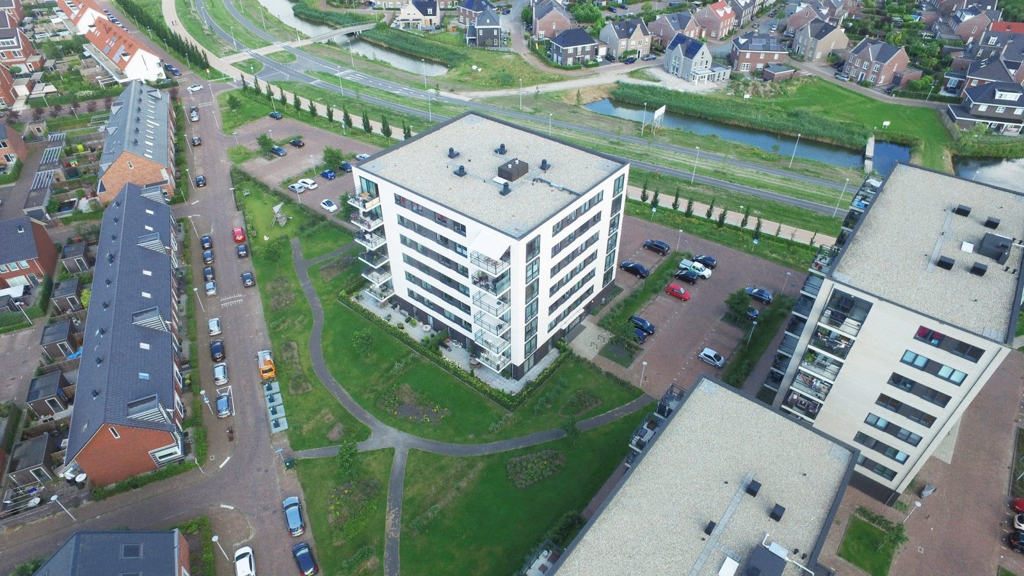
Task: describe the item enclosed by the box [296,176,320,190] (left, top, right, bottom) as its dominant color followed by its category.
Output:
white car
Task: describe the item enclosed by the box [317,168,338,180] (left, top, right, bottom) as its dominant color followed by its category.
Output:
blue vehicle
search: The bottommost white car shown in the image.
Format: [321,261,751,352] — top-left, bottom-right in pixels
[230,542,257,576]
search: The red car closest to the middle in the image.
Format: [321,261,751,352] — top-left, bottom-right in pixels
[663,281,693,301]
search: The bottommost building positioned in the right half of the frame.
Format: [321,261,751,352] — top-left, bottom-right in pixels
[521,377,859,576]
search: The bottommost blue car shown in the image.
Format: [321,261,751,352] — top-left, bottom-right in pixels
[291,536,319,576]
